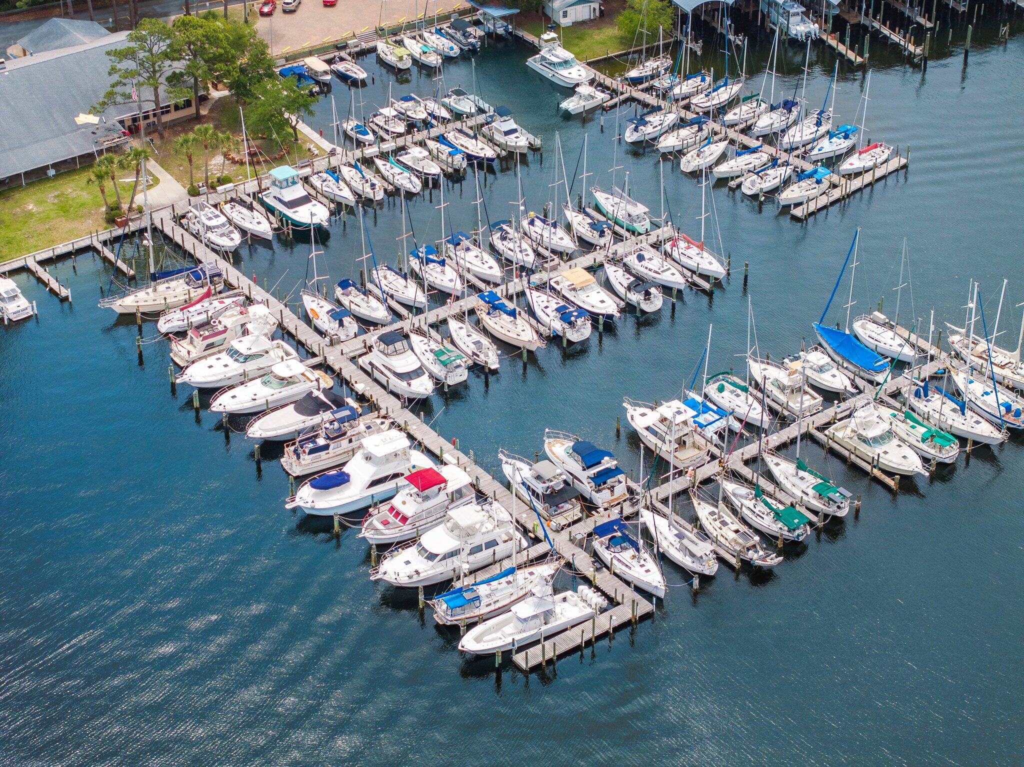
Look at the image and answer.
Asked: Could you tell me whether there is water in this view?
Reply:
Yes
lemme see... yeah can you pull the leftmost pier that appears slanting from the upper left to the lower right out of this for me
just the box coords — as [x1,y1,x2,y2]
[27,257,69,302]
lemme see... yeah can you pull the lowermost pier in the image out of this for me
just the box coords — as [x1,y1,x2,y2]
[510,606,642,676]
